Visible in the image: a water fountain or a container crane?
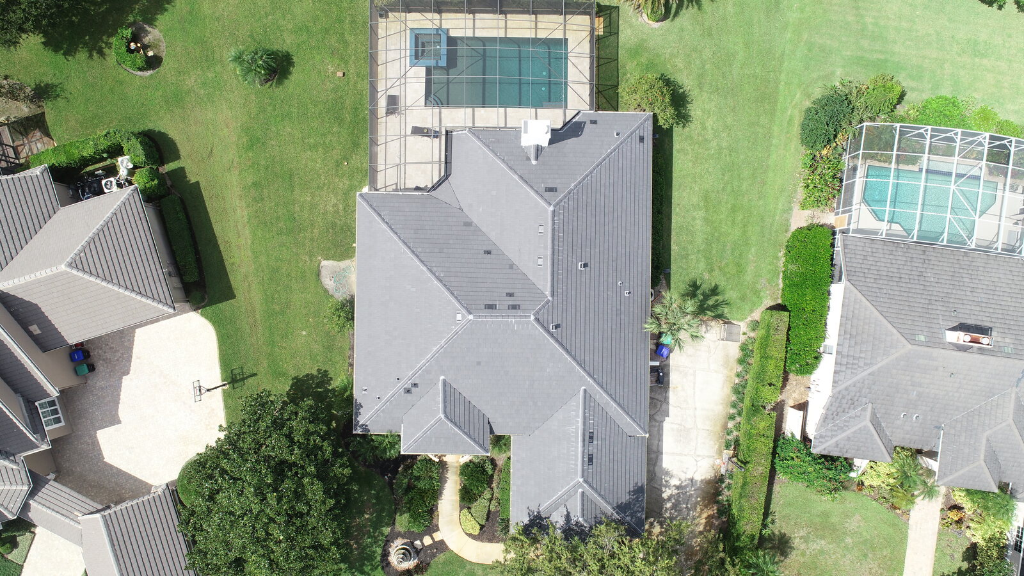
water fountain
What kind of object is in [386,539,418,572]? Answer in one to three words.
fountain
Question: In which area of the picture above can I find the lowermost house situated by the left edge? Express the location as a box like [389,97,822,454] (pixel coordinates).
[0,163,206,576]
